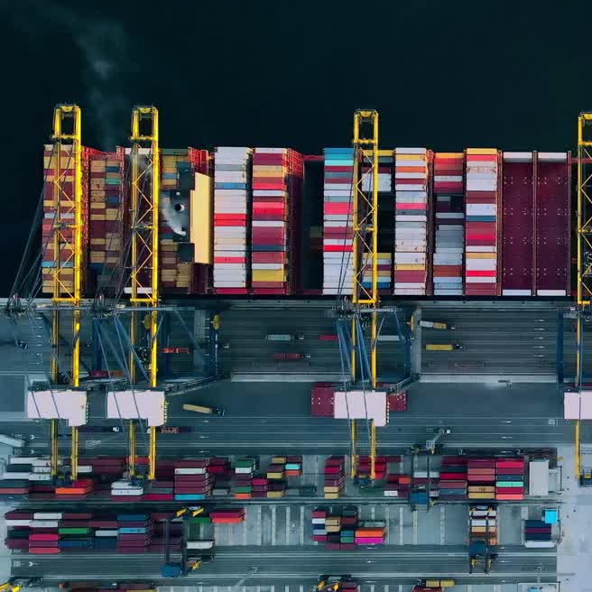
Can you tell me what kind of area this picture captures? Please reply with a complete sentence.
The area seen from above is a port.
